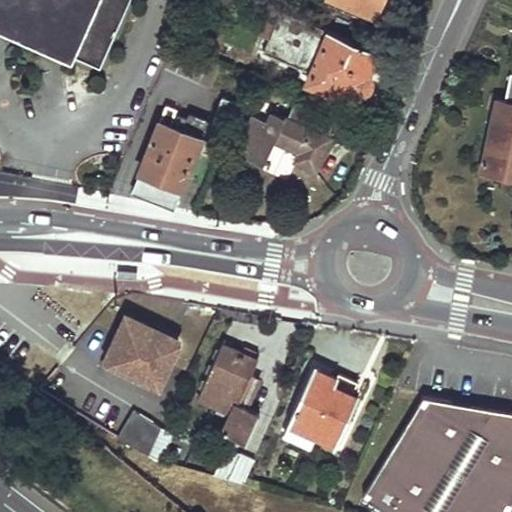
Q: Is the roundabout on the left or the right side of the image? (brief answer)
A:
right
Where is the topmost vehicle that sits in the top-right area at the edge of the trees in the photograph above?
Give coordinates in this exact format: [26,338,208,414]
[406,111,420,132]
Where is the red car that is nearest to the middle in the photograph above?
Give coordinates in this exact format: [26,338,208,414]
[324,154,336,173]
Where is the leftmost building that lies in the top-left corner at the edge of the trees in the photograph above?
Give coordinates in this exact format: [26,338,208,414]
[0,0,130,69]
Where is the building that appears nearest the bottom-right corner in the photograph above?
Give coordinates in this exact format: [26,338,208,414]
[357,402,512,512]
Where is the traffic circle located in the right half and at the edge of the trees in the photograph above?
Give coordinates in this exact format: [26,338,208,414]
[284,0,471,326]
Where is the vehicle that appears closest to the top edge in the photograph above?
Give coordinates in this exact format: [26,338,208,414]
[146,56,160,77]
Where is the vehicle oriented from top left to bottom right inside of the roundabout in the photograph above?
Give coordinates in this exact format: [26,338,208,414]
[376,220,398,240]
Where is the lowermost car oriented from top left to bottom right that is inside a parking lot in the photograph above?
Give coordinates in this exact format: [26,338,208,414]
[56,322,76,340]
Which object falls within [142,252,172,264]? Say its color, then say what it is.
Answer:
white vehicle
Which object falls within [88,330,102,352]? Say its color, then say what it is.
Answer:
white car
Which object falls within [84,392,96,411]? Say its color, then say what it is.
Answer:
gray vehicle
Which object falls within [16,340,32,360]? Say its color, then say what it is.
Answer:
gray car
